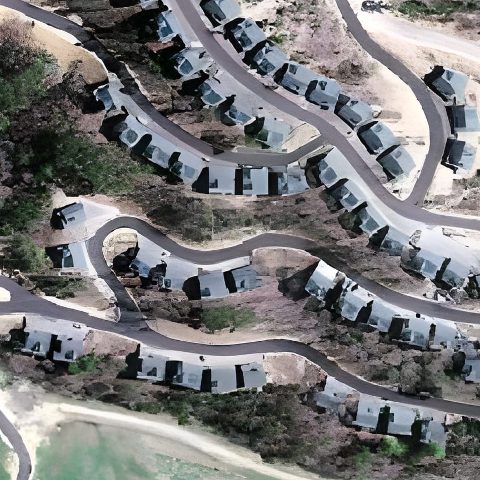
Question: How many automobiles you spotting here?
none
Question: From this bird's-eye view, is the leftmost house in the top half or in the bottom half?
bottom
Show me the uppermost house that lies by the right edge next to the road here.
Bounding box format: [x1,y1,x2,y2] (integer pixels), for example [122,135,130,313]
[426,65,472,105]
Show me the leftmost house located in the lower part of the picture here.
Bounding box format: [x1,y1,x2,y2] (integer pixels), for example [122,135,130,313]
[24,327,56,359]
